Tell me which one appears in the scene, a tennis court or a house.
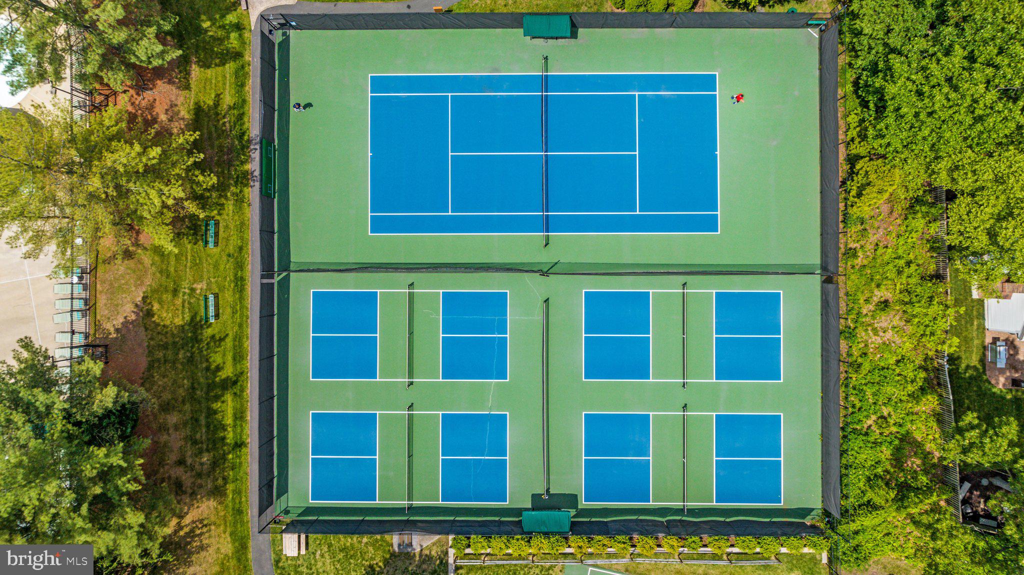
tennis court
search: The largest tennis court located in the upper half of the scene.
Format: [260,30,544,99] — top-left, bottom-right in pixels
[277,29,821,273]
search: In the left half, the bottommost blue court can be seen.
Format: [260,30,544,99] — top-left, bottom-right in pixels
[310,412,508,503]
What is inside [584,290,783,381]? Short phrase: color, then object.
blue sports court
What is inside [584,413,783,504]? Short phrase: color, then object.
blue sports court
